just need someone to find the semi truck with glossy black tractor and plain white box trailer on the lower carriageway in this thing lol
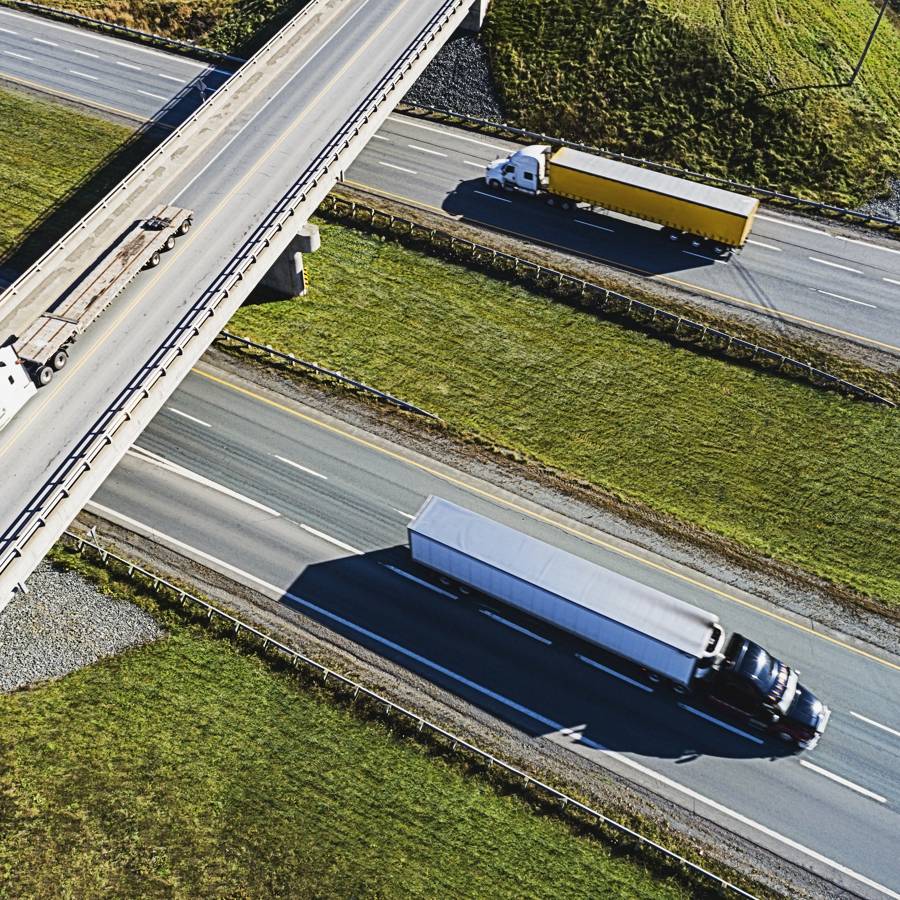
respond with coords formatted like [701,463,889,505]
[407,495,830,750]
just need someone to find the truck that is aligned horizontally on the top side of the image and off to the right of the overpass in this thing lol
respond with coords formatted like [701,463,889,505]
[486,146,758,256]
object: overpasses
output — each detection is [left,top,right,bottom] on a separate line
[0,0,502,601]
